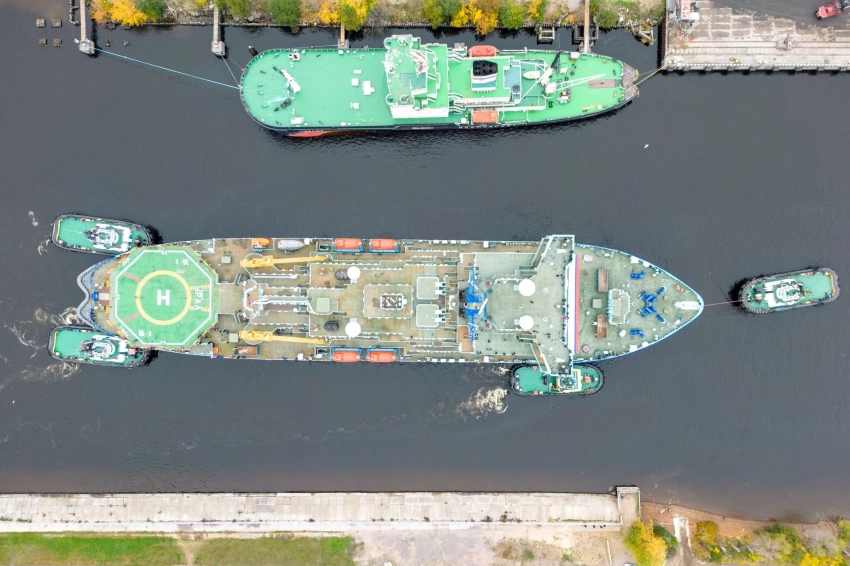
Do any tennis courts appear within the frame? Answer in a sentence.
No, the picture doesn't show any tennis court.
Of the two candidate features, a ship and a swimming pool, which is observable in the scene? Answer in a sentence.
I can see a ship in this picture.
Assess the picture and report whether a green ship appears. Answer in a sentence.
Yes, there's a green ship here.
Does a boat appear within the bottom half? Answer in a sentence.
Yes, the scene does show a boat within the bottom half.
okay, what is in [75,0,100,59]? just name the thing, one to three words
pier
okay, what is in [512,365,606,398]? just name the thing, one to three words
boat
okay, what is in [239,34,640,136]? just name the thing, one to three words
ship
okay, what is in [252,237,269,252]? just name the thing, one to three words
boat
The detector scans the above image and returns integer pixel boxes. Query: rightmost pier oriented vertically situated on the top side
[574,0,596,52]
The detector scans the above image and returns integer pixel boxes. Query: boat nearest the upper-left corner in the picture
[46,212,149,253]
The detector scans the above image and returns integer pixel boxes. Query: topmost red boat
[468,43,498,56]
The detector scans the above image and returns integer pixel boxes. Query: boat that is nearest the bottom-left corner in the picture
[42,327,144,368]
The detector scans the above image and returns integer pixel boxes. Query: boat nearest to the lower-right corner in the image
[743,267,846,311]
